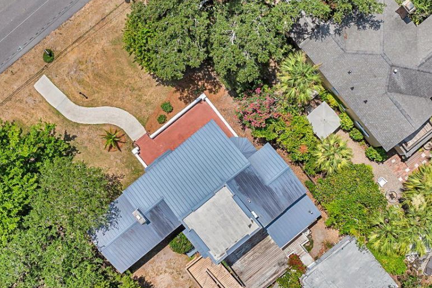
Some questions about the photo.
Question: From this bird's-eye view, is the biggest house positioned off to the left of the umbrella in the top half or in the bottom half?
bottom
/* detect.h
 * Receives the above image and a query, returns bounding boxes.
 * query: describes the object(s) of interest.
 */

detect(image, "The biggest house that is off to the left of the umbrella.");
[89,119,321,271]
